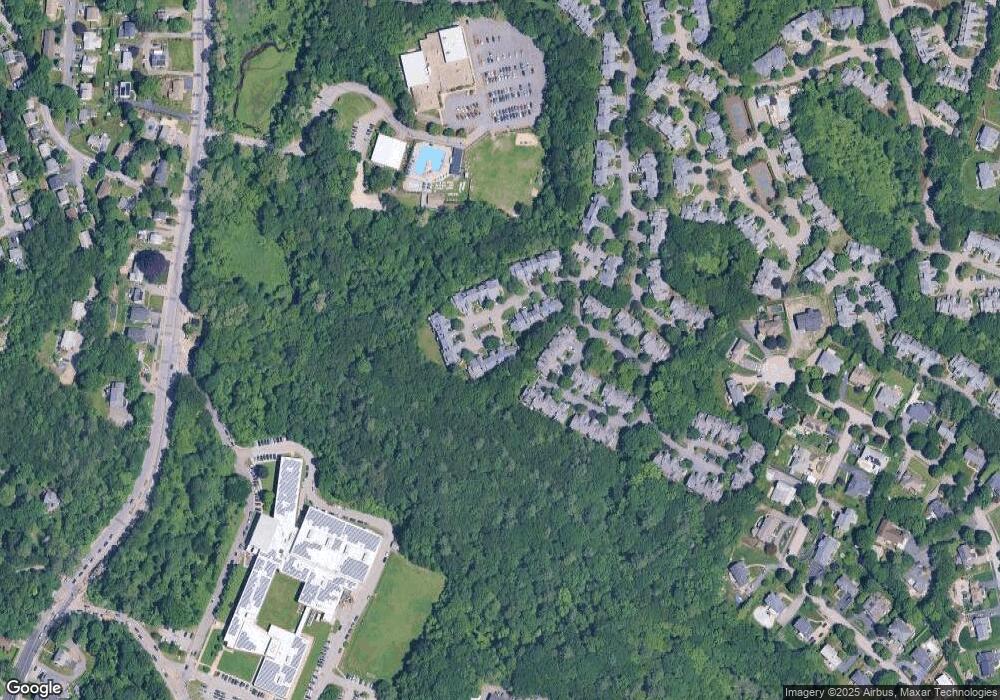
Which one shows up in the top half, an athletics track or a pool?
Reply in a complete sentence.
The feature located in the top half is a pool.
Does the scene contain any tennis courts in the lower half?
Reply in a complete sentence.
No, no tennis court is visible in the lower half.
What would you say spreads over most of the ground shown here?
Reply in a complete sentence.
The scene is dominated by trees.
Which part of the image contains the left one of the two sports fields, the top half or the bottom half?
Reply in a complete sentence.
The left one of the two sports fields is in the bottom half of the image.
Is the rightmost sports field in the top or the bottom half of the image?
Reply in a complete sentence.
It is in the top half that the rightmost sports field appears.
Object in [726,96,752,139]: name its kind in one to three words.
tennis court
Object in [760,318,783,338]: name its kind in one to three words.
house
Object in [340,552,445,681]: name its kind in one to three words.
sports field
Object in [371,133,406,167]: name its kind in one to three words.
building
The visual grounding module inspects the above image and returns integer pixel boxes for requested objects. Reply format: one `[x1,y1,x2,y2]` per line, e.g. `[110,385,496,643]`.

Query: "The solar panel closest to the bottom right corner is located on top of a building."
[863,449,886,471]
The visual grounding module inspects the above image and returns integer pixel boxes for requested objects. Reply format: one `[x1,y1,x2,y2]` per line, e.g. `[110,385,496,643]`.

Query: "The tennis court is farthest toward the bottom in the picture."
[748,162,776,209]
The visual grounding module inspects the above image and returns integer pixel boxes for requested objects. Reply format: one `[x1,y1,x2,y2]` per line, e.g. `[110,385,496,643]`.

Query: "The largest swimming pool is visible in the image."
[405,143,452,192]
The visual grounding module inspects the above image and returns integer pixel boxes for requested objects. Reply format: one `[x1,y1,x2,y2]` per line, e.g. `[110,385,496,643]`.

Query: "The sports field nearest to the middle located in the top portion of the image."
[465,131,544,214]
